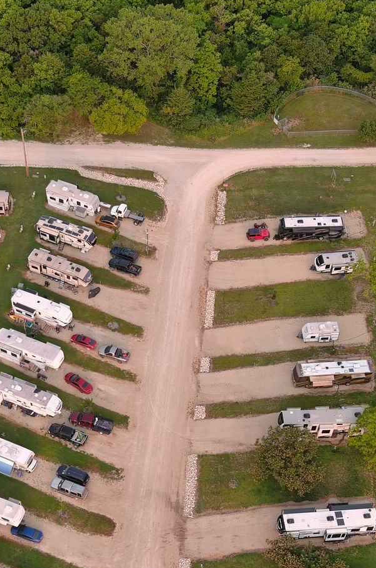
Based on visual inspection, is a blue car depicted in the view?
Yes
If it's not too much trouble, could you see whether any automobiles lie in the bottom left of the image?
Yes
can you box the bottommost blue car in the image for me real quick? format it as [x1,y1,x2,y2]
[12,521,43,541]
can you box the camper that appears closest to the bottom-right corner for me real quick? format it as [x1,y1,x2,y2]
[273,503,376,544]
